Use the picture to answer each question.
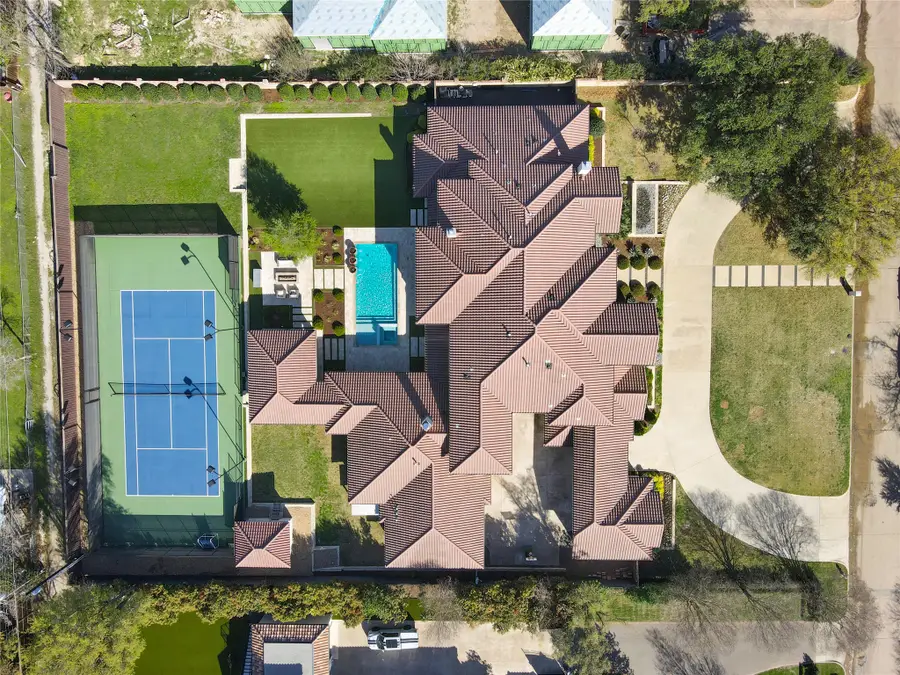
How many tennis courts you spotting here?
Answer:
1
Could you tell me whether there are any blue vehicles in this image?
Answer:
No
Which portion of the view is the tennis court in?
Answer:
left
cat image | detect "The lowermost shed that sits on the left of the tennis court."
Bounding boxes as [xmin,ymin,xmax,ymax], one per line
[0,465,47,508]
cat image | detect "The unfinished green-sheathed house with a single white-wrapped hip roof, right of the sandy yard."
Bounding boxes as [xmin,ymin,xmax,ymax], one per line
[529,0,612,49]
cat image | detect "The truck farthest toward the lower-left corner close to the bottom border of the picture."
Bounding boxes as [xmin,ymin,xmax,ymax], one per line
[368,628,418,653]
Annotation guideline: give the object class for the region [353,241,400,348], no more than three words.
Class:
swimming pool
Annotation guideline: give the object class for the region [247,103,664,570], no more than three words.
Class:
house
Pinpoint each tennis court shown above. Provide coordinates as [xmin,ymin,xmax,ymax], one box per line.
[96,236,245,546]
